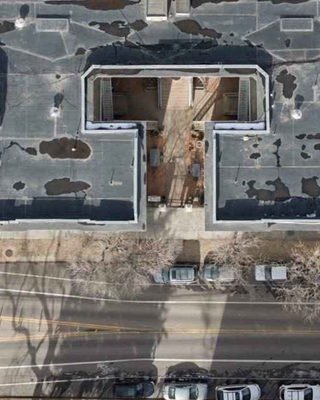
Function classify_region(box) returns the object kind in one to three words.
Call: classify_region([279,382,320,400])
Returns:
car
